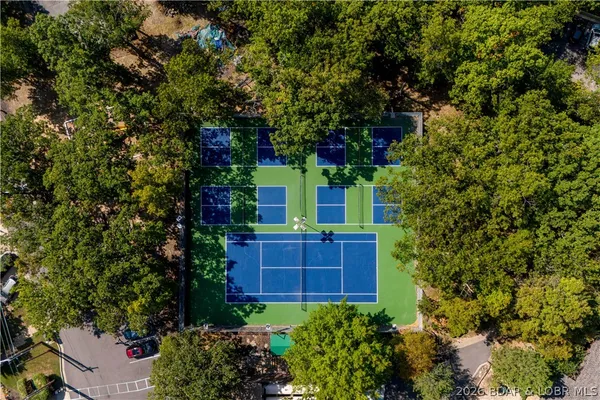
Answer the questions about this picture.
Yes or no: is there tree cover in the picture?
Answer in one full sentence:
Yes, tree cover can be seen from above here.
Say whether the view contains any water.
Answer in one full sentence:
No, the scene doesn't show any water.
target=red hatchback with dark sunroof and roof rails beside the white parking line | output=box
[124,340,156,358]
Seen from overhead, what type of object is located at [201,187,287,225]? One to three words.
sports court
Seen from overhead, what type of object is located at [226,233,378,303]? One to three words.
tennis court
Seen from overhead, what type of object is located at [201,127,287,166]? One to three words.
sports court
